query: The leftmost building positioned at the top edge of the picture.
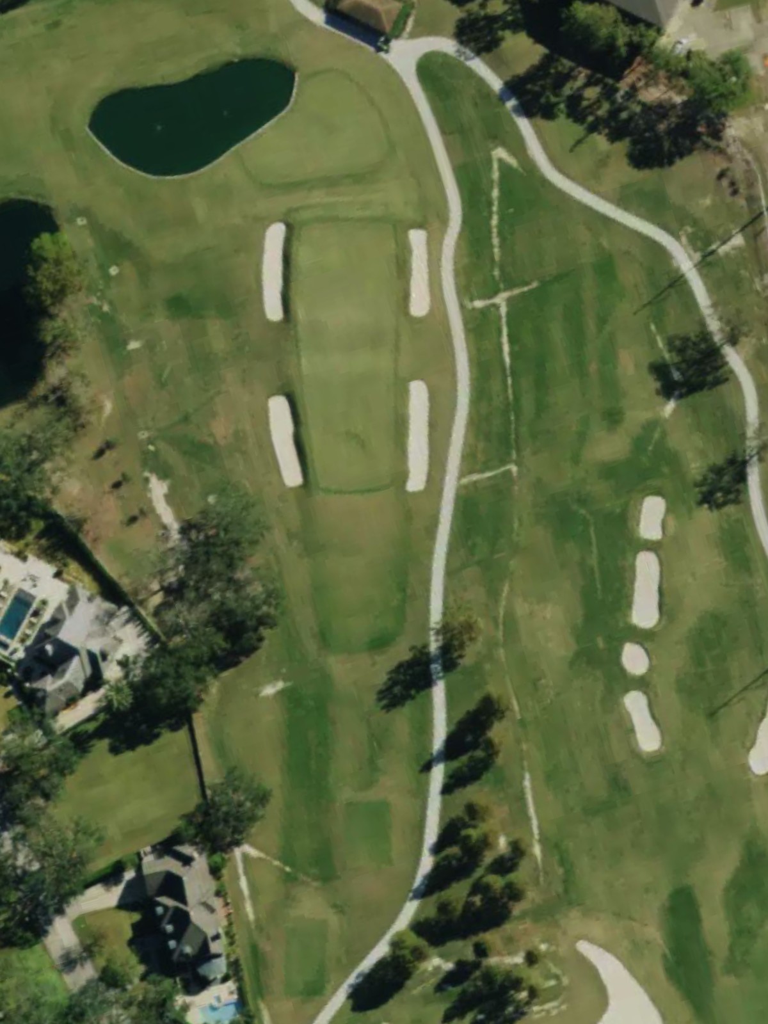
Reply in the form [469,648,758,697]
[336,0,402,32]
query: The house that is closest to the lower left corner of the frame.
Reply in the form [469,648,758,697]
[143,843,225,989]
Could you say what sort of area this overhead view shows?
golf course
